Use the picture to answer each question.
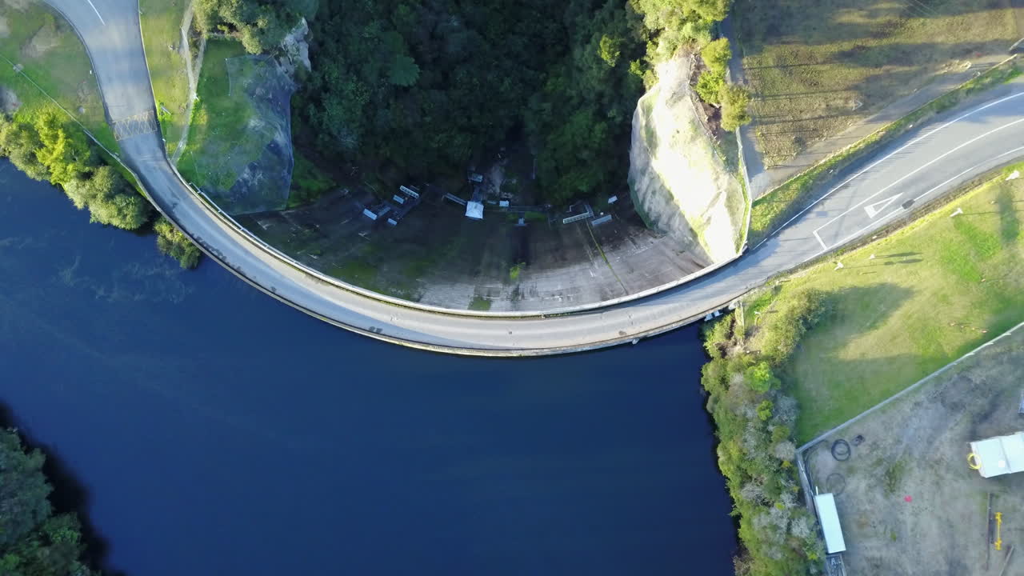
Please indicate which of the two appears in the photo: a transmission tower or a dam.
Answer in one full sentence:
Of the two, only a dam appears.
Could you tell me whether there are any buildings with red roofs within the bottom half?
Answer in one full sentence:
No, I see no building with a red roof within the bottom half.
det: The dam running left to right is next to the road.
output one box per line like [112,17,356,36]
[137,163,756,357]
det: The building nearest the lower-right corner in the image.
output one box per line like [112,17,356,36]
[965,430,1024,477]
